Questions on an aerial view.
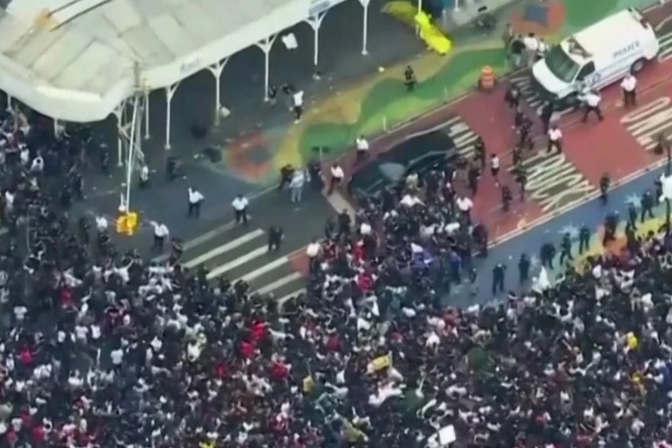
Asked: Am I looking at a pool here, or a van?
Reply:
van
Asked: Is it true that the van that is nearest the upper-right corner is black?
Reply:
No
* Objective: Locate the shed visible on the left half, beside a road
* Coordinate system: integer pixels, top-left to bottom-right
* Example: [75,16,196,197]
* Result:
[0,0,373,177]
